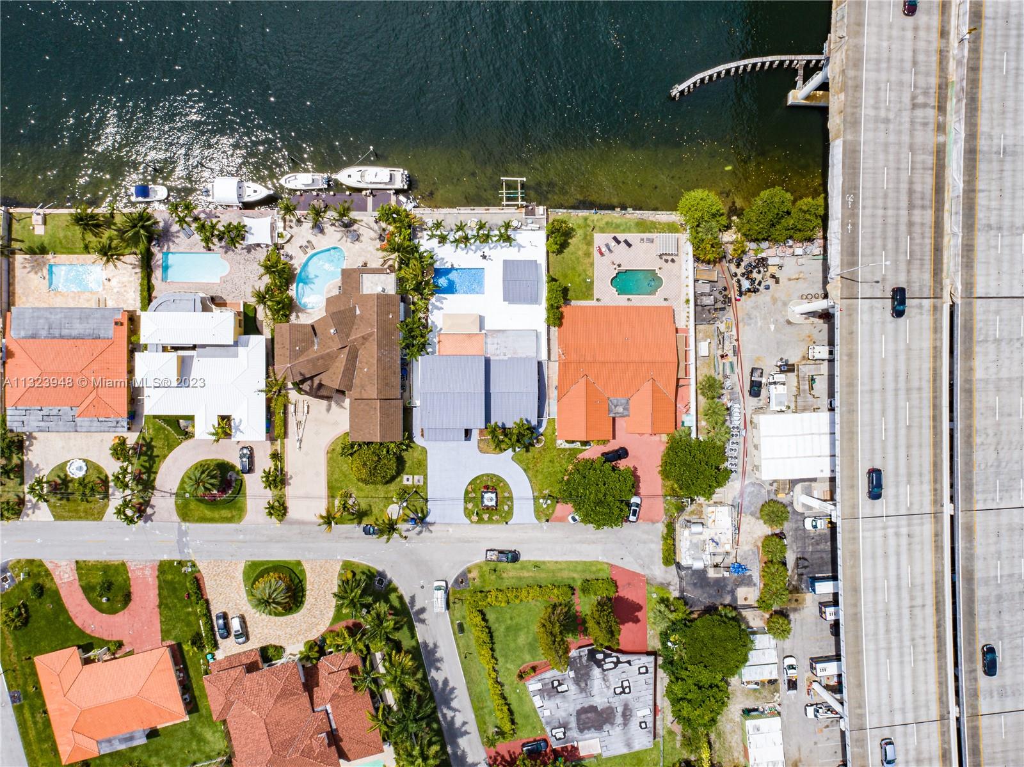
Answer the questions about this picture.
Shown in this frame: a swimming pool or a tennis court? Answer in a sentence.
Of the two, only a swimming pool appears.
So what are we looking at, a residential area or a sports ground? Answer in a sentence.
This image shows a residential area.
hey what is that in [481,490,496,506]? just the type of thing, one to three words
fountain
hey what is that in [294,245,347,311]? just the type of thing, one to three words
swimming pool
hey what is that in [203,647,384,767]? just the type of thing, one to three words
house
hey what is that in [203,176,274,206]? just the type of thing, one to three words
boat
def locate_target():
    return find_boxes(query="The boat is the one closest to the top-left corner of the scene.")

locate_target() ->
[125,184,168,201]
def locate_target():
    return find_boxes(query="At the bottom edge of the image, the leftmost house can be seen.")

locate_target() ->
[34,643,190,766]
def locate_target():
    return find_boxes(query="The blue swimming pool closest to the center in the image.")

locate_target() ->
[433,266,486,296]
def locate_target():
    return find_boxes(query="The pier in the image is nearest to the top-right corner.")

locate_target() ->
[783,59,832,110]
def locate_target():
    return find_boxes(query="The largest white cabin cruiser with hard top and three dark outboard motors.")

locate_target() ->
[334,168,413,189]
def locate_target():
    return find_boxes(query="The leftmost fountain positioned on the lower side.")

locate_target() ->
[69,459,88,477]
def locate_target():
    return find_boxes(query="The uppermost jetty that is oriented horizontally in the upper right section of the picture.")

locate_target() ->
[667,54,826,96]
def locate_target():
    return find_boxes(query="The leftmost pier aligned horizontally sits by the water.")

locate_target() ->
[289,192,402,211]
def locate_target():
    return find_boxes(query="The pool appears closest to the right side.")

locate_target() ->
[608,267,666,297]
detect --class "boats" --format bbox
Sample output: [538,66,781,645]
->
[279,174,334,190]
[203,176,274,206]
[334,168,413,189]
[125,184,168,201]
[401,193,416,209]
